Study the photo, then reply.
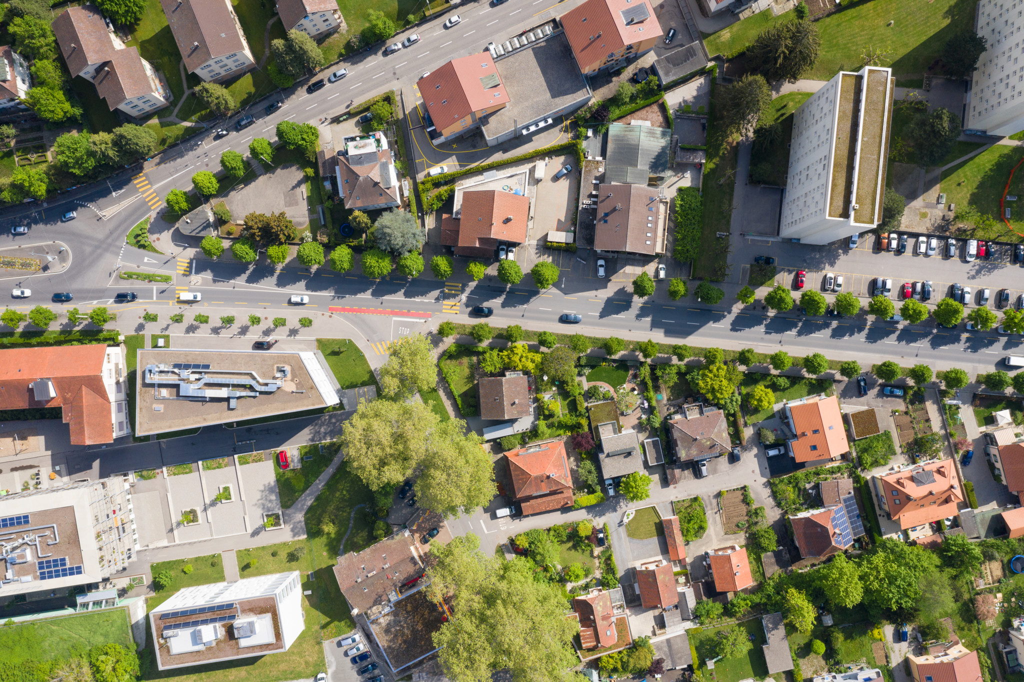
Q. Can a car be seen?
Yes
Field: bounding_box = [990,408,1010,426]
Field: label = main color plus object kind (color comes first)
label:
white gazebo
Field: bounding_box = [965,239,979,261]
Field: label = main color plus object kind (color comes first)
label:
white vehicle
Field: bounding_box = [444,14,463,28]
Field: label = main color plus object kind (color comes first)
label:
white car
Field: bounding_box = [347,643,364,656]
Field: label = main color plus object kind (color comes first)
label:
white vehicle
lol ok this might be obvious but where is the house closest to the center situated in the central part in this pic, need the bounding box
[479,373,530,420]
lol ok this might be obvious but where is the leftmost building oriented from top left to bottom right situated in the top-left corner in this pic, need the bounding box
[51,4,166,118]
